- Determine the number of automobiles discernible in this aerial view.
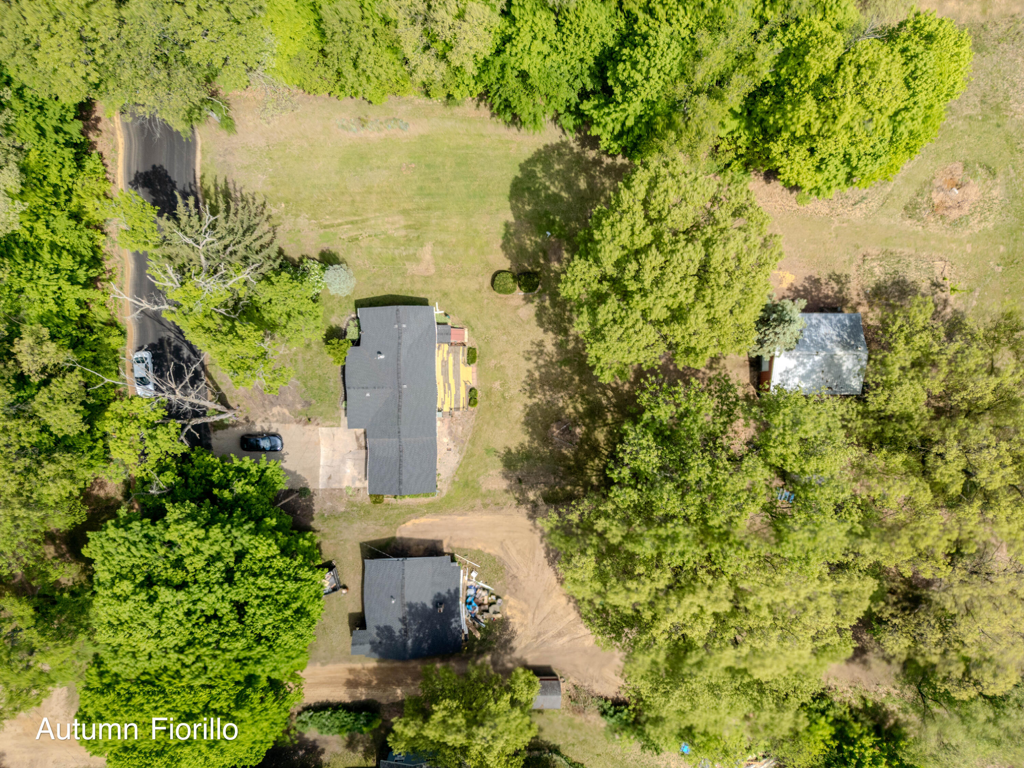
2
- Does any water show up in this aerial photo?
No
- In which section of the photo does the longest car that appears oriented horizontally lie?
left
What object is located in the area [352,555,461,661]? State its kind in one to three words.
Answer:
house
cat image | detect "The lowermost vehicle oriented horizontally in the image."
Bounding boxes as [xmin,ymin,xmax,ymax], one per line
[238,434,282,454]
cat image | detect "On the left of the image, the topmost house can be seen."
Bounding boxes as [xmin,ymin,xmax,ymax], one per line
[344,302,444,499]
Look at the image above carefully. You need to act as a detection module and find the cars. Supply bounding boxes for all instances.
[238,434,282,454]
[129,351,153,395]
